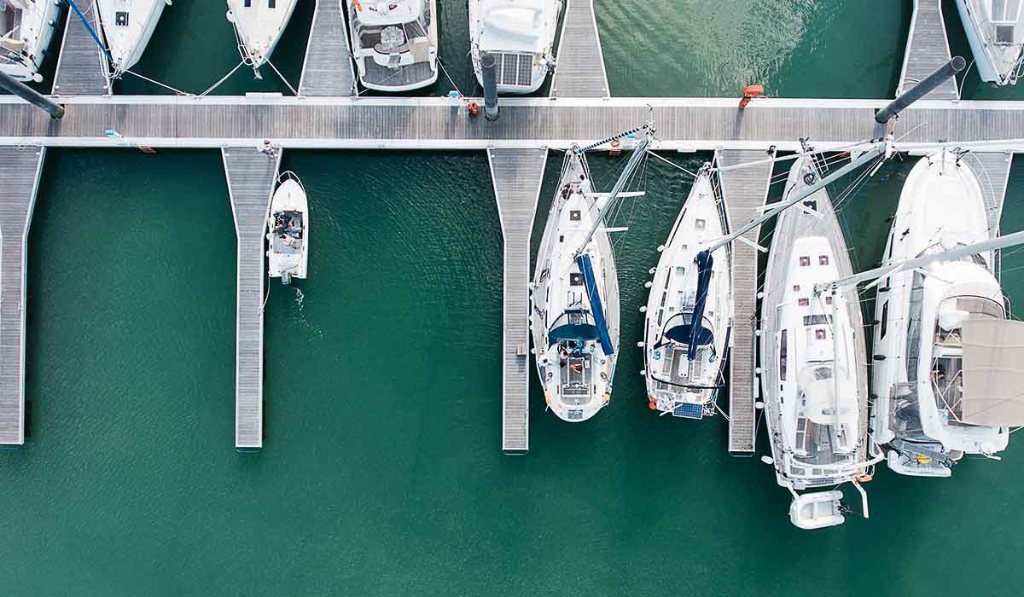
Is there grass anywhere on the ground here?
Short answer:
No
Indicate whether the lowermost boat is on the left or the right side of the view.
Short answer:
right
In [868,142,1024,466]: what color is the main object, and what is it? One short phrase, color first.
white boat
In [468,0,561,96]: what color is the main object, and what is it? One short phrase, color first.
white boat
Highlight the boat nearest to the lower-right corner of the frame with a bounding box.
[884,440,954,480]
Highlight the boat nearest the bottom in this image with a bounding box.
[787,488,852,531]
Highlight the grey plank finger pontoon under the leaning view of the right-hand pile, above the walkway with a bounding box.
[893,0,958,101]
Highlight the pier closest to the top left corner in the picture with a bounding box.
[52,0,114,96]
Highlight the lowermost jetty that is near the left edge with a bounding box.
[0,147,49,449]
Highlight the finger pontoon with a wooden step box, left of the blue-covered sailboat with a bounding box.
[489,150,546,455]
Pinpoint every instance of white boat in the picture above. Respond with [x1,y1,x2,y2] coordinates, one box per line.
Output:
[349,0,443,94]
[69,0,162,79]
[644,117,937,419]
[531,97,663,422]
[868,142,1024,466]
[949,0,1024,92]
[755,137,1024,518]
[224,0,298,80]
[787,488,852,531]
[269,170,310,282]
[468,0,561,96]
